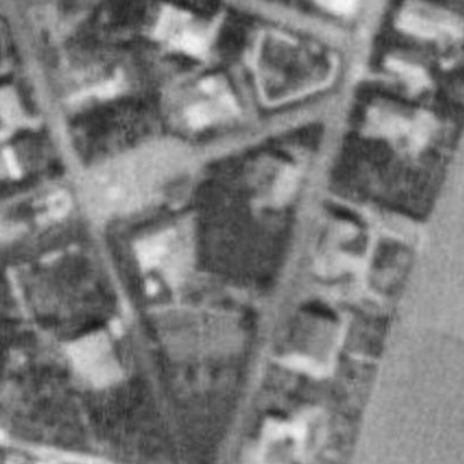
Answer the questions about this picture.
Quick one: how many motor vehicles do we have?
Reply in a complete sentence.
I count no motor vehicles.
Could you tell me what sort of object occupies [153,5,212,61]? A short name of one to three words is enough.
house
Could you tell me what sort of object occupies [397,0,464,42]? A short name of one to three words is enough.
house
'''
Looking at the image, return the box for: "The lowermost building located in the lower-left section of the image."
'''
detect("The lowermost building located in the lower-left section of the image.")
[67,333,124,389]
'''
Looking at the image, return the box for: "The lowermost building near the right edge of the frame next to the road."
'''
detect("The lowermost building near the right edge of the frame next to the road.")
[360,97,442,154]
